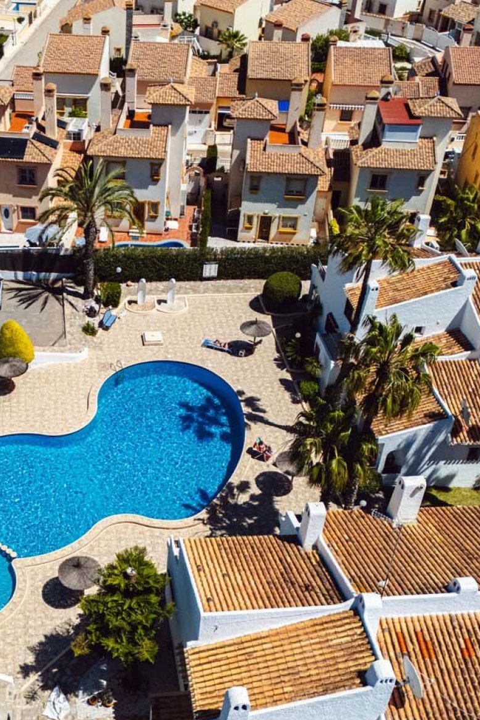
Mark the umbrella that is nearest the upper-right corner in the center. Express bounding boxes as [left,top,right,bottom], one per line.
[239,320,272,354]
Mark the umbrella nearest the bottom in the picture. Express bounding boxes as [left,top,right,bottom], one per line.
[57,558,100,599]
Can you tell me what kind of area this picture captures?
residential area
